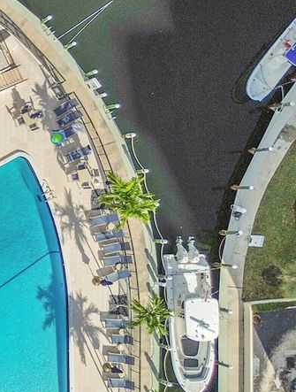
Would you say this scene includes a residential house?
No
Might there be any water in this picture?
Yes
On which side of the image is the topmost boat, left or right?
right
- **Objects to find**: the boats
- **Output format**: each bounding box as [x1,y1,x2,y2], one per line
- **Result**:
[249,11,296,102]
[160,237,218,392]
